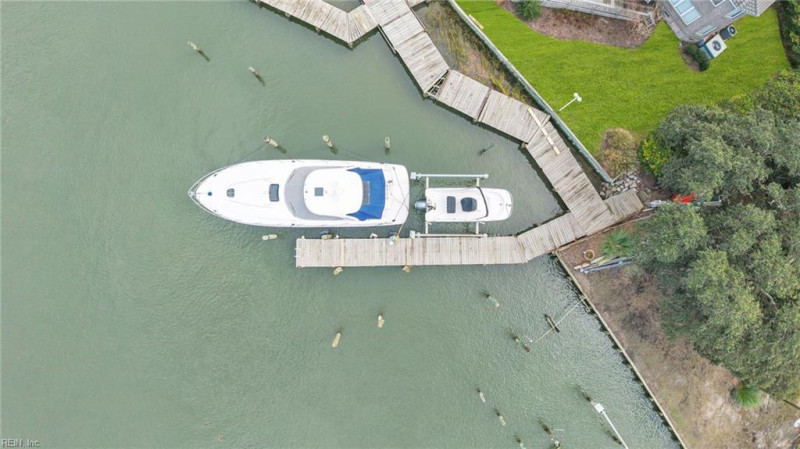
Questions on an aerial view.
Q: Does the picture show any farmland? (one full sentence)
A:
No, the picture contains no farmland.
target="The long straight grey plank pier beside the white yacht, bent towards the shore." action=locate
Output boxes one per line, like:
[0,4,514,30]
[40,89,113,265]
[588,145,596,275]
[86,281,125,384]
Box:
[295,212,587,268]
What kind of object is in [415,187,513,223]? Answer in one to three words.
boat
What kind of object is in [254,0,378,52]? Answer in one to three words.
pier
